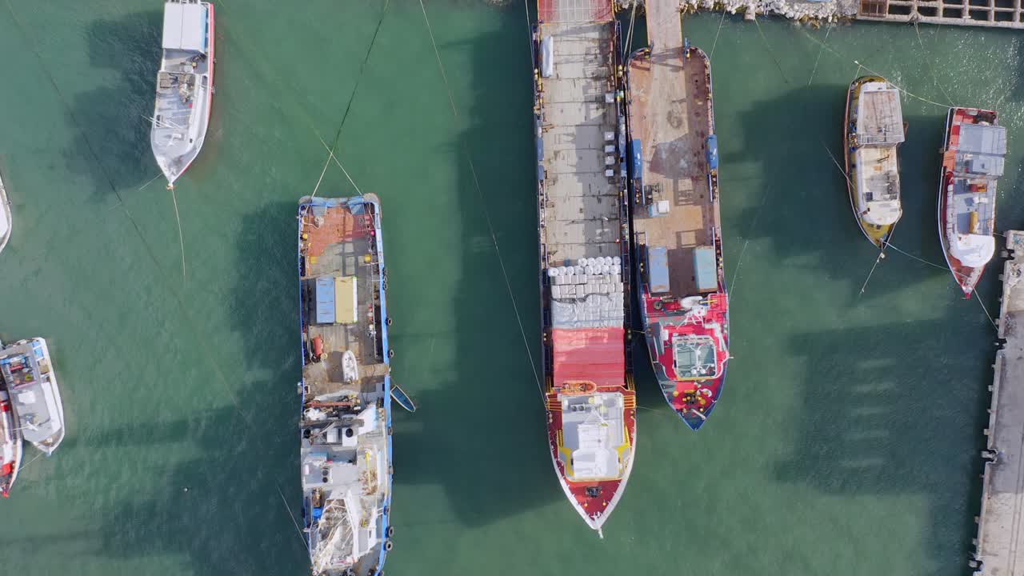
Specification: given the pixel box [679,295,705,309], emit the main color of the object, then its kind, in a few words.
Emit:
white boat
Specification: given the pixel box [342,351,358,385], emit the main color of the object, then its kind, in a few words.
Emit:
white boat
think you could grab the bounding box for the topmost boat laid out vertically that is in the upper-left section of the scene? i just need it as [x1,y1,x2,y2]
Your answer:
[141,0,219,190]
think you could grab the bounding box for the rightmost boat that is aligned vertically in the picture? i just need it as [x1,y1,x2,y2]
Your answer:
[934,108,1007,298]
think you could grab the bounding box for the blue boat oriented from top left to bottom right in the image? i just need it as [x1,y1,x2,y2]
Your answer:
[391,385,416,413]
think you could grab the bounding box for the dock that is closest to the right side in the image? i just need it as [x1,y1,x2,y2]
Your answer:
[963,230,1024,576]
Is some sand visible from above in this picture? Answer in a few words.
No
